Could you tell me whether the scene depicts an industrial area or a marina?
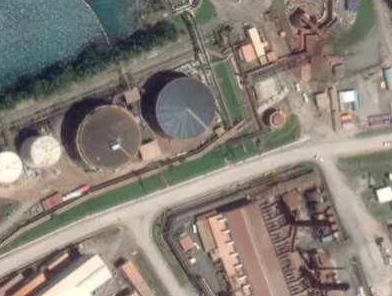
industrial area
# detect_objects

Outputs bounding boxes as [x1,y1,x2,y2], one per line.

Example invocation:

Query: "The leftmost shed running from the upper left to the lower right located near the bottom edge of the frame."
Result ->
[120,260,154,296]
